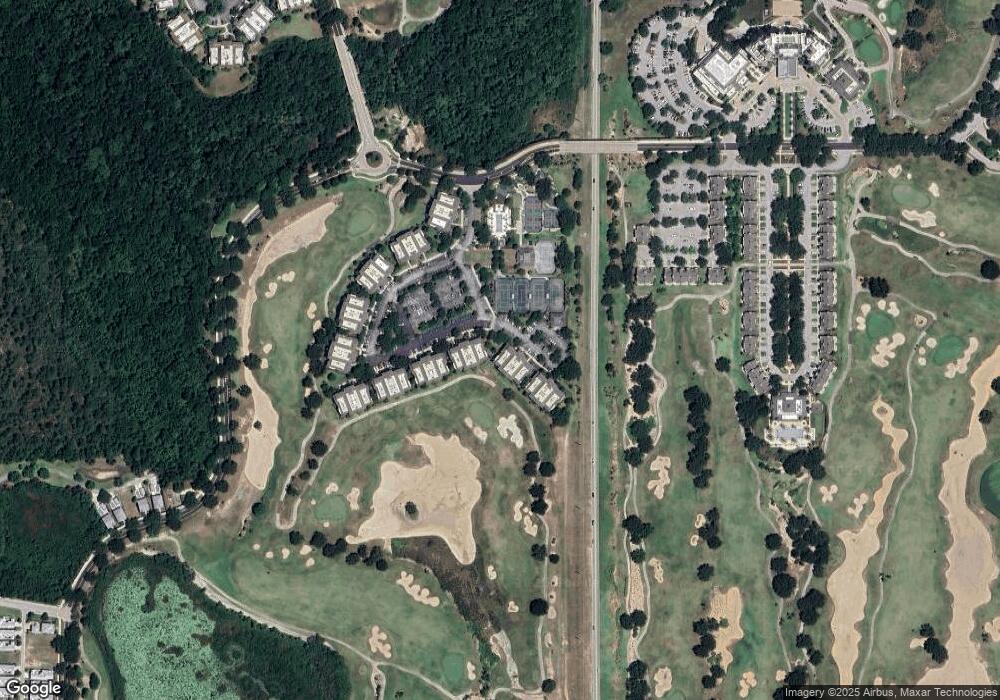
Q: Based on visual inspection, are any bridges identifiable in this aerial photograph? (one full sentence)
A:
Yes, the frame does contain a bridge.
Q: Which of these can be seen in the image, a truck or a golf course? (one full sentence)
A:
This aerial view contains a golf course.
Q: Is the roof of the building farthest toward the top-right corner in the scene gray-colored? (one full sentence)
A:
Yes, gray is the color of the roof of the building farthest toward the top-right corner.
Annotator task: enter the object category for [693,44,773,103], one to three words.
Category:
building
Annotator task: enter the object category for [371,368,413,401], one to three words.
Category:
building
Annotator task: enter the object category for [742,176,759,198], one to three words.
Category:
house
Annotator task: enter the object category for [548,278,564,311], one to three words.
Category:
tennis court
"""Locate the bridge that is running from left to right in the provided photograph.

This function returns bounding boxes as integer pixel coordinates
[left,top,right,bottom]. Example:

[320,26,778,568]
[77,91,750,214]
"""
[560,140,638,153]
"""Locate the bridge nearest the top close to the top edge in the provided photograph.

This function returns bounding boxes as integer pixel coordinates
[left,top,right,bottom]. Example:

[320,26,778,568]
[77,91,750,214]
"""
[327,28,374,145]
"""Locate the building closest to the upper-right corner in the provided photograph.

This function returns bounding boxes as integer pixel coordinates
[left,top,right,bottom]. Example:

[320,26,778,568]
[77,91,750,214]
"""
[824,58,867,100]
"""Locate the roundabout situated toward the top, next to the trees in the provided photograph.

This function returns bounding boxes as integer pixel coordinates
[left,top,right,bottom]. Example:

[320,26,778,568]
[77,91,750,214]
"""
[358,143,390,174]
